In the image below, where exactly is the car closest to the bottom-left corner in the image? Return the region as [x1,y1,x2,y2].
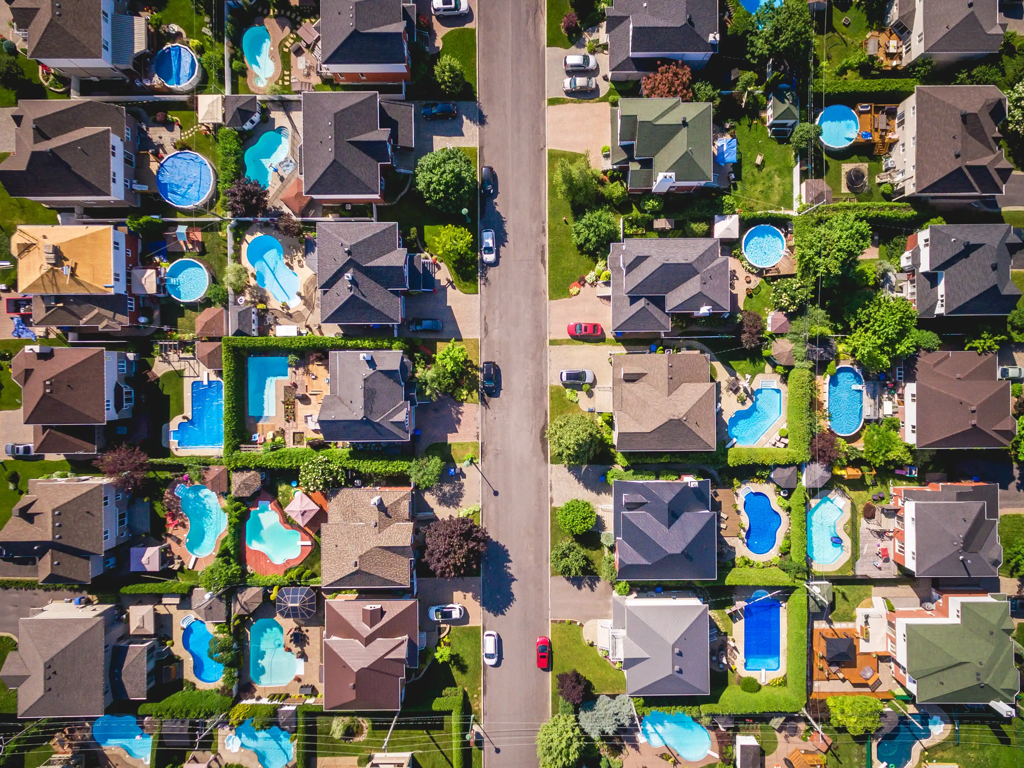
[6,442,35,457]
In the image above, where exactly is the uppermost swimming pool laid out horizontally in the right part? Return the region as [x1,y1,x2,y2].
[719,0,782,28]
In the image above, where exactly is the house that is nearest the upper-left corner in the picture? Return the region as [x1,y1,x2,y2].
[3,0,126,77]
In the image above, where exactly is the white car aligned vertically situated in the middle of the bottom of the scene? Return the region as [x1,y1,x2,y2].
[482,630,497,665]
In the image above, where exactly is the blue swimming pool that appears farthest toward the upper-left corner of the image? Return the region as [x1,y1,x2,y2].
[154,44,199,89]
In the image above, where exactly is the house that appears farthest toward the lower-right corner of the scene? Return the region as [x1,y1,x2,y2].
[885,588,1024,716]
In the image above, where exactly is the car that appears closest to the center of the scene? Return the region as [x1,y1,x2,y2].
[482,360,497,391]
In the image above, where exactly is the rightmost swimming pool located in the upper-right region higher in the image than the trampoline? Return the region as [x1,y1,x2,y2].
[816,106,863,149]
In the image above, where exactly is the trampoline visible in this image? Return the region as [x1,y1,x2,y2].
[842,164,871,188]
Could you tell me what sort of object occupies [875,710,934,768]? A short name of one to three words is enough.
swimming pool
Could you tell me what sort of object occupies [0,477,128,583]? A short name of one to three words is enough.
house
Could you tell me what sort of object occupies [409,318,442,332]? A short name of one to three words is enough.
car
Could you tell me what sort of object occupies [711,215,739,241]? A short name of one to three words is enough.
gazebo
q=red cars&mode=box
[535,635,550,668]
[567,322,602,337]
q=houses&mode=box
[0,99,148,208]
[612,352,716,451]
[610,98,713,199]
[372,745,413,768]
[885,588,1024,716]
[298,91,415,206]
[323,595,420,711]
[605,0,719,81]
[895,351,1018,449]
[10,225,150,331]
[607,238,730,332]
[892,483,1003,577]
[888,0,1008,72]
[0,477,128,583]
[904,224,1024,318]
[319,351,419,442]
[316,222,423,325]
[0,607,158,718]
[320,0,418,83]
[321,489,418,588]
[11,346,130,454]
[613,476,717,579]
[3,0,126,77]
[894,85,1023,205]
[612,591,710,696]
